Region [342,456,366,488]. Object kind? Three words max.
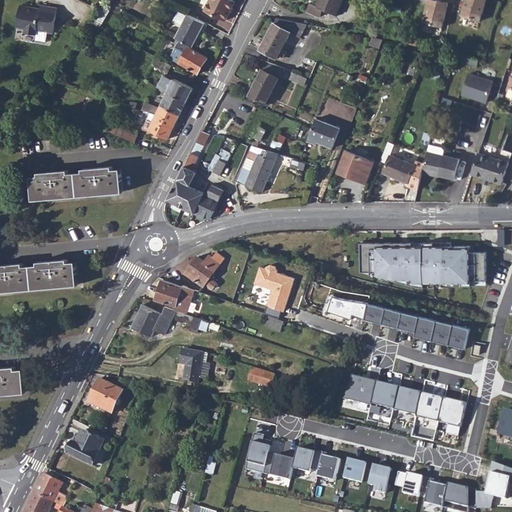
house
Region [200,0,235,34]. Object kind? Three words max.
house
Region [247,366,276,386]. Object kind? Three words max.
barn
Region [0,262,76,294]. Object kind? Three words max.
building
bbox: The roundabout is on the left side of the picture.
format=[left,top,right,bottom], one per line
[126,219,179,268]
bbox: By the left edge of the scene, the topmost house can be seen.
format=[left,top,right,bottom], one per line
[15,6,57,46]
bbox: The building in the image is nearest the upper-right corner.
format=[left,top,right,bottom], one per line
[459,0,488,30]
